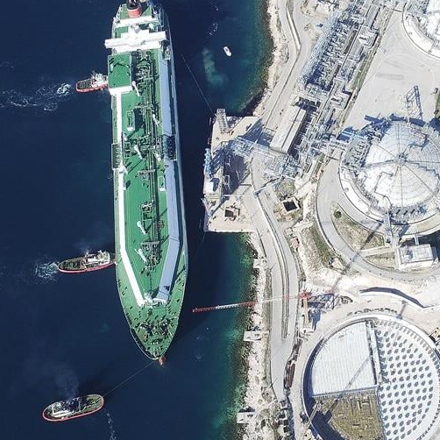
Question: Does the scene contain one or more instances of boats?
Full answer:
Yes, there is a boat in the image.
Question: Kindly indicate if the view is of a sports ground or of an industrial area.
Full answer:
This looks like an industrial area.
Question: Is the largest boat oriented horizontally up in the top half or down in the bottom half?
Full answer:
Seen from above, the largest boat oriented horizontally lies in the bottom half of the view.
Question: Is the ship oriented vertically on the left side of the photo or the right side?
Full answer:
The ship oriented vertically appears in the left half of the scene.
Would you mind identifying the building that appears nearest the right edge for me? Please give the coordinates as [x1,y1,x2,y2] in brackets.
[399,245,435,268]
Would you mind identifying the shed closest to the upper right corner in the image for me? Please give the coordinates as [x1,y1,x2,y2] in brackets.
[270,104,307,159]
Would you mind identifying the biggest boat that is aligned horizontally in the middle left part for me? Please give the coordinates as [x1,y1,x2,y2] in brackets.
[58,253,115,275]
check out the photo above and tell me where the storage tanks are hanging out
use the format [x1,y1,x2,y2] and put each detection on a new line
[301,304,440,440]
[401,0,440,70]
[338,92,440,239]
